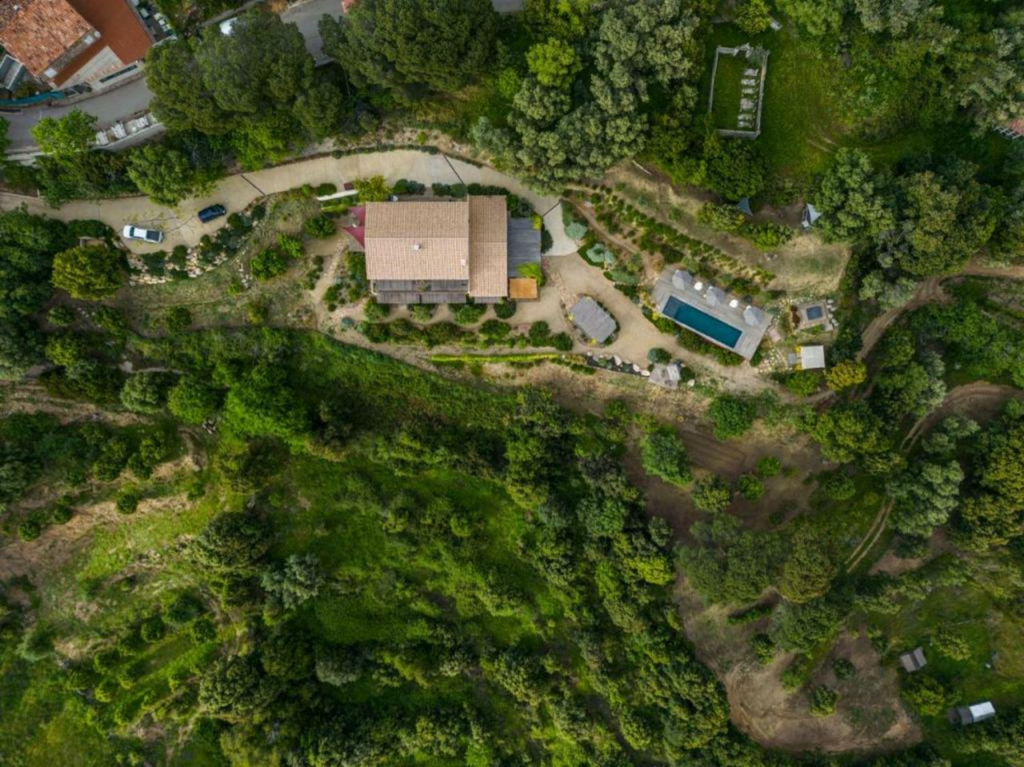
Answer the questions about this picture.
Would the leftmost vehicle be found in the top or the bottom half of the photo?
top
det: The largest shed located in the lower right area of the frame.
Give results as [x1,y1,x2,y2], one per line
[895,644,926,672]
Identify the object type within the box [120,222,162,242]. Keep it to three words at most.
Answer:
vehicle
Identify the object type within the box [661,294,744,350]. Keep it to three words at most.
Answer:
swimming pool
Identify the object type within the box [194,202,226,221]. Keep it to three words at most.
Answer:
car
